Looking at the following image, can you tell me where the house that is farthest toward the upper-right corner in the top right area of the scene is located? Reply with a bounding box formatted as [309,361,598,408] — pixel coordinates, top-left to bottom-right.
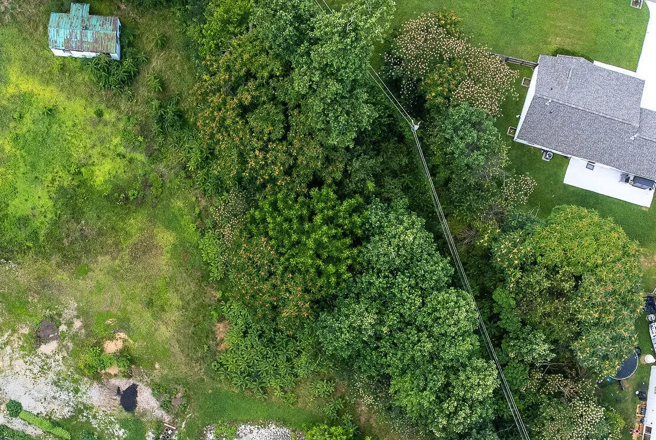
[511,53,656,182]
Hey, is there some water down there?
No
